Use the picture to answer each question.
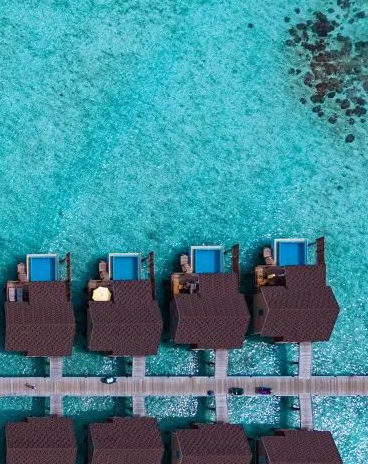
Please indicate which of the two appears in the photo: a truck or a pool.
pool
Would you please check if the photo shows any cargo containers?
No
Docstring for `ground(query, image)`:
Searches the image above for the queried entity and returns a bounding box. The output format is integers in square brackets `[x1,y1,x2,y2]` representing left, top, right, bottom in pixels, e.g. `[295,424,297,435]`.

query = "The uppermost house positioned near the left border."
[4,251,76,357]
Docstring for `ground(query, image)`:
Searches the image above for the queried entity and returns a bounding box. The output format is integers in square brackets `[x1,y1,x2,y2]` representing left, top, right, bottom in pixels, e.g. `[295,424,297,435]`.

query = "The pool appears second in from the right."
[187,246,223,275]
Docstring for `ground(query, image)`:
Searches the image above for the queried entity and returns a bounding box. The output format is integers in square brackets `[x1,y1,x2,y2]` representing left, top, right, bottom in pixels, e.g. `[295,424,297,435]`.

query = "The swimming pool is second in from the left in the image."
[107,253,141,282]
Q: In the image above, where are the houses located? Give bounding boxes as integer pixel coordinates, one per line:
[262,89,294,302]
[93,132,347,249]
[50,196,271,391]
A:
[6,417,77,464]
[4,251,76,357]
[84,250,163,356]
[246,236,339,341]
[168,425,253,464]
[164,243,250,348]
[249,432,342,464]
[87,418,165,464]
